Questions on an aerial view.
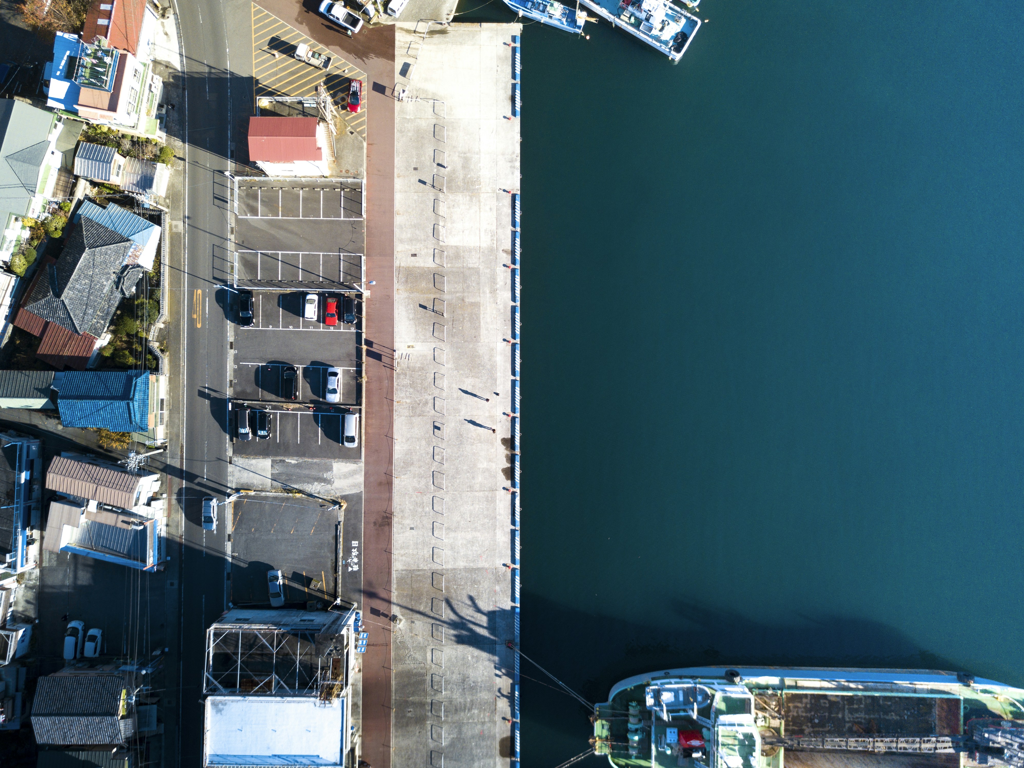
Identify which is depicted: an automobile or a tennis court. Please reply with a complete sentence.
Looking from above, you can make out an automobile.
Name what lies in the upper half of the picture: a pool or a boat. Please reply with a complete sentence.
Visible in the upper half of the picture is a boat.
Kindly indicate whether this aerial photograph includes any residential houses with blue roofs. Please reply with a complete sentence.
Yes, the photo shows a residential house with a blue roof.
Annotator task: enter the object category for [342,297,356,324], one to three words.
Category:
car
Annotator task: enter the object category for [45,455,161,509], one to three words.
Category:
house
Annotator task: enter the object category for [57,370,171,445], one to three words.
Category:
house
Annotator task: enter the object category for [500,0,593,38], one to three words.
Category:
boat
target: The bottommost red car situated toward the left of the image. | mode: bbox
[323,297,338,326]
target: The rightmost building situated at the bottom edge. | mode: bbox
[201,608,354,768]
